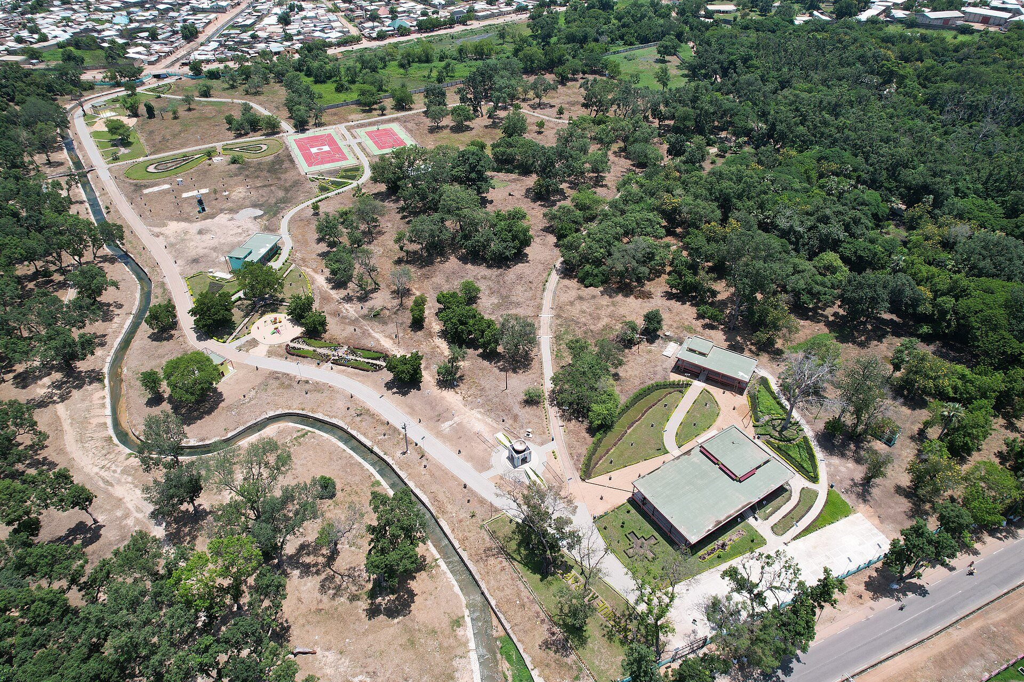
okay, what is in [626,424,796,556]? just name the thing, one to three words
building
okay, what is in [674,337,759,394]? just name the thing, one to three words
building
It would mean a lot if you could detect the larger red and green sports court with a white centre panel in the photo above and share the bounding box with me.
[286,128,359,173]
